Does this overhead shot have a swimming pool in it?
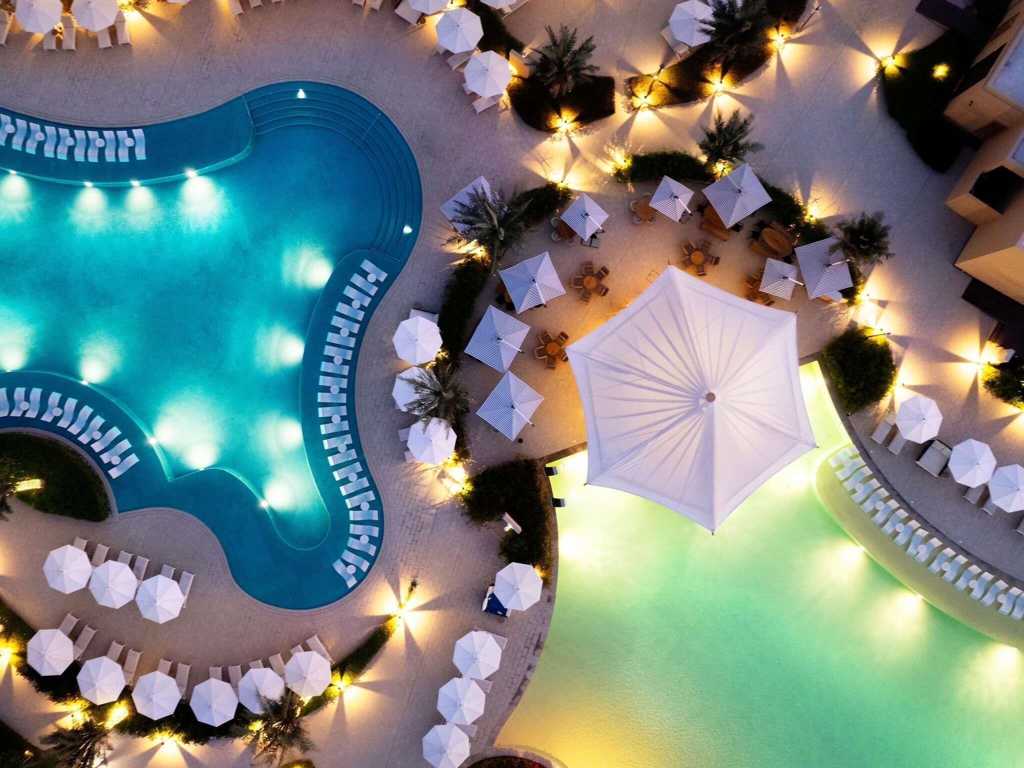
Yes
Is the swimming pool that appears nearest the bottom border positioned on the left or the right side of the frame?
right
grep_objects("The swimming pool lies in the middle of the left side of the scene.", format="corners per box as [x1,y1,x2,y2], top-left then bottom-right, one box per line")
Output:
[0,81,422,610]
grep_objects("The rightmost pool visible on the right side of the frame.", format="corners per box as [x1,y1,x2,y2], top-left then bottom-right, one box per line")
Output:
[494,362,1024,768]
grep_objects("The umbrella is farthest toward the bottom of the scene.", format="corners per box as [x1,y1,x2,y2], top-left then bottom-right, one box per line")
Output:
[422,724,469,768]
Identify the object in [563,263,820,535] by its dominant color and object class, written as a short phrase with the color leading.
white tent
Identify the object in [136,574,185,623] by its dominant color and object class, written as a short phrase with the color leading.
white umbrella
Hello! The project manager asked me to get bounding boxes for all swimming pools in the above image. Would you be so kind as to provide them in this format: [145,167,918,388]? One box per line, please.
[0,81,422,610]
[494,362,1024,768]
